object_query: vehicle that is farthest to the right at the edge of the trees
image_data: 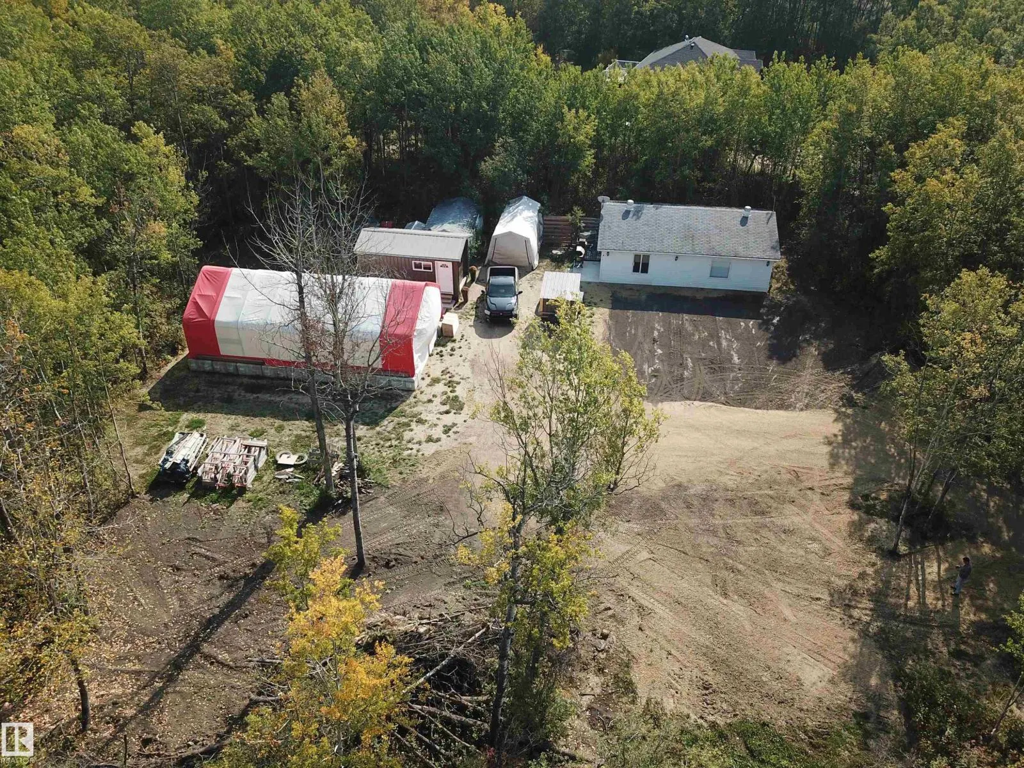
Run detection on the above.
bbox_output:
[484,270,523,323]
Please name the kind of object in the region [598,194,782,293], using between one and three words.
house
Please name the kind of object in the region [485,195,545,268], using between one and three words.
tent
